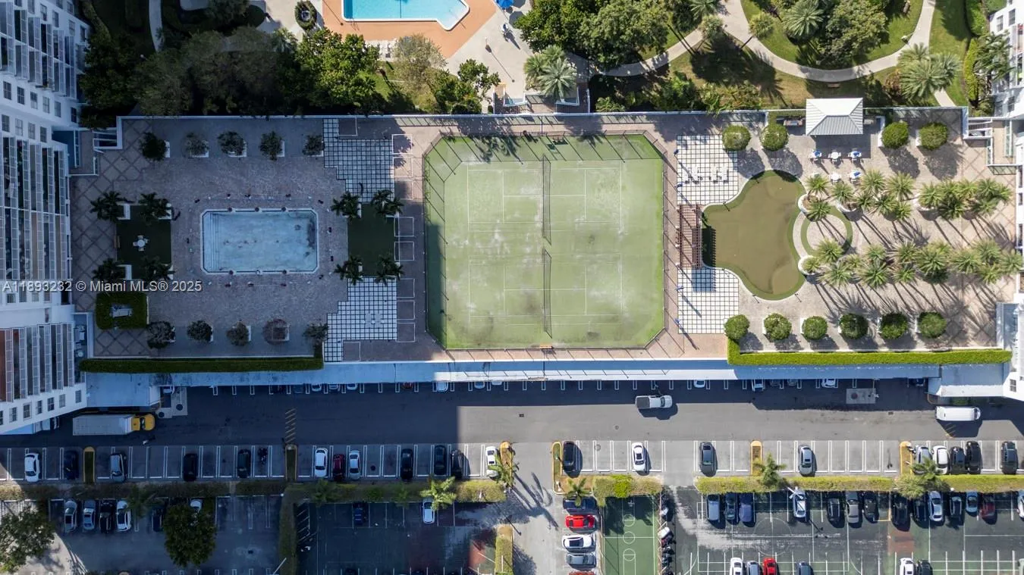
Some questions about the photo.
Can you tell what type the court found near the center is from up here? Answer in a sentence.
From above, the court found near the center can be identified as a tennis court.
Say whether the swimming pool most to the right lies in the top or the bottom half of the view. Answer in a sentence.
The swimming pool most to the right sits in the top half of the picture.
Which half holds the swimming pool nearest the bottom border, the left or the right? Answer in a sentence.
It is on the left.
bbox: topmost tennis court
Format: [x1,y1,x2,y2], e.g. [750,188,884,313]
[426,135,665,349]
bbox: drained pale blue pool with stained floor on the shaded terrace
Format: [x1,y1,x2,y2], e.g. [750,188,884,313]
[200,209,318,274]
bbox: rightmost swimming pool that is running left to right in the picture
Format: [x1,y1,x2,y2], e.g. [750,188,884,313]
[322,0,497,58]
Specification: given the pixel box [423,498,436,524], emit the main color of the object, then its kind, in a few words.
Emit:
blue vehicle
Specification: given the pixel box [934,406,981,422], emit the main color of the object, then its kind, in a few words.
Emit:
white vehicle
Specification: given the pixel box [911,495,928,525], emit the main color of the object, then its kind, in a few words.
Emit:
black car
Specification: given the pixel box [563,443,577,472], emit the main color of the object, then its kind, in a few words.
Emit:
black car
